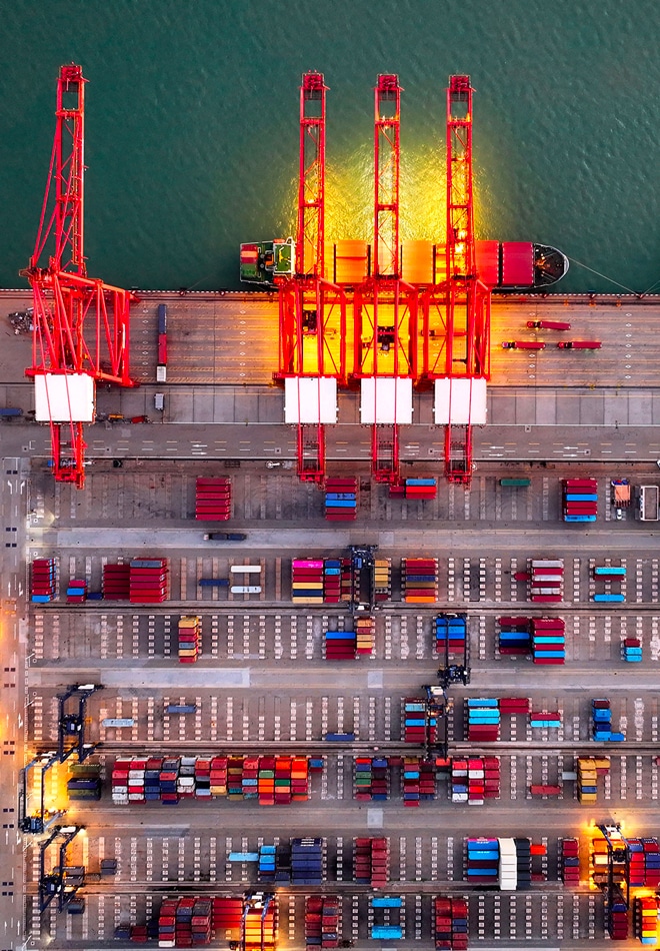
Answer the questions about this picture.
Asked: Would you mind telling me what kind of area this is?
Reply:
port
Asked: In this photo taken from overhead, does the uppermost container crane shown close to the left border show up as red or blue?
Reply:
red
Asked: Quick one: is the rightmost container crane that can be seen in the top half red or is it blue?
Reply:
red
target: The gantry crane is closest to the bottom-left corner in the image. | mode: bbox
[38,826,88,914]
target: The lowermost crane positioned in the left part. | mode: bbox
[240,891,280,951]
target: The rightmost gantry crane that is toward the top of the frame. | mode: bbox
[419,68,498,494]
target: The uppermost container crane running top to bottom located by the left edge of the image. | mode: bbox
[21,57,136,500]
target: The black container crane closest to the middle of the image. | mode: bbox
[345,541,382,613]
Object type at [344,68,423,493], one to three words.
container crane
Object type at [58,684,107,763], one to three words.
container crane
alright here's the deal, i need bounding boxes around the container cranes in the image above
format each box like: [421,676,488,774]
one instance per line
[588,826,633,914]
[240,891,280,951]
[434,606,472,684]
[38,826,88,914]
[19,749,71,836]
[344,68,423,493]
[416,682,454,762]
[21,57,136,500]
[419,68,498,494]
[268,67,355,493]
[58,684,107,763]
[345,541,382,613]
